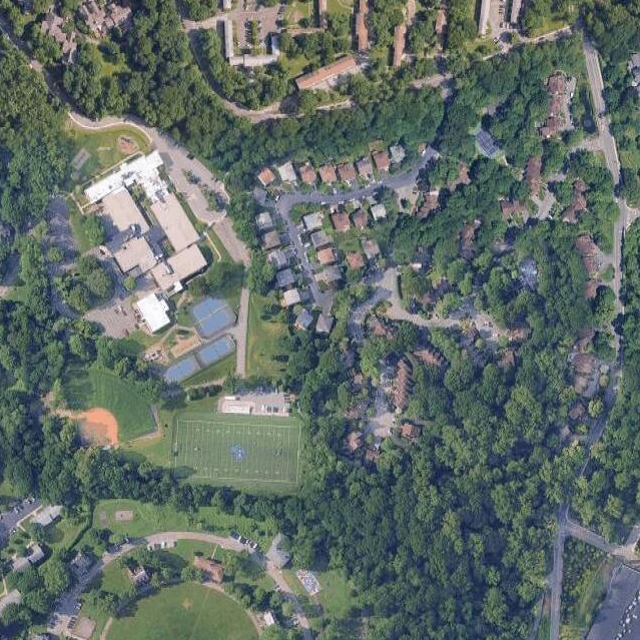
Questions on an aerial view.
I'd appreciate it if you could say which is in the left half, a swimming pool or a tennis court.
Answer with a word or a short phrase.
tennis court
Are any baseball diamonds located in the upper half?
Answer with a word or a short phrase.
No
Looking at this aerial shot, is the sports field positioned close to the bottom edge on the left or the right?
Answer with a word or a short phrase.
left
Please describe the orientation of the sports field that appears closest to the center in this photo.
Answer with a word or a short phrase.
from left to right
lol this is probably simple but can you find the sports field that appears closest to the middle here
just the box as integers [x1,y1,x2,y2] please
[173,417,303,486]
